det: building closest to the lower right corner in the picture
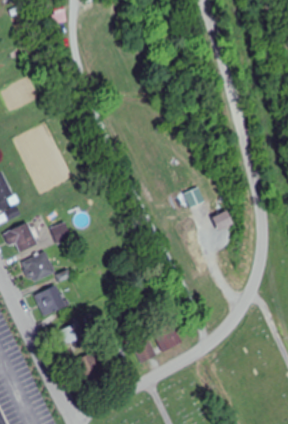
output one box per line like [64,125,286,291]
[156,330,181,353]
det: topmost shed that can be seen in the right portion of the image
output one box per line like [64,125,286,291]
[178,186,204,208]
